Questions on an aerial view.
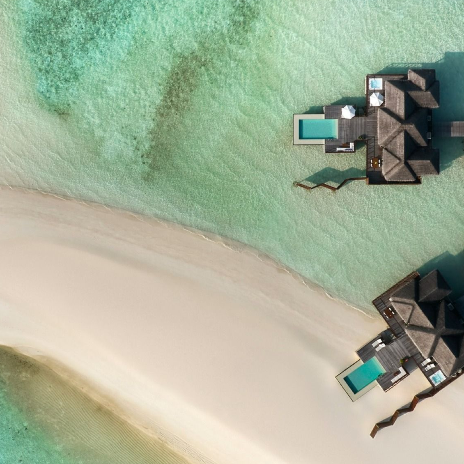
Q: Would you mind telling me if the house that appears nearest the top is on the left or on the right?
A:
right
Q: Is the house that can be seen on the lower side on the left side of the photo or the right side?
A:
right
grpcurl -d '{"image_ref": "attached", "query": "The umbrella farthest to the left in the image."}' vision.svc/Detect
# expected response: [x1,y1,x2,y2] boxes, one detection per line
[342,105,356,119]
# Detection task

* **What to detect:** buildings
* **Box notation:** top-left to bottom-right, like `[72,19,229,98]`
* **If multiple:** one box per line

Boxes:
[363,69,440,184]
[370,270,464,394]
